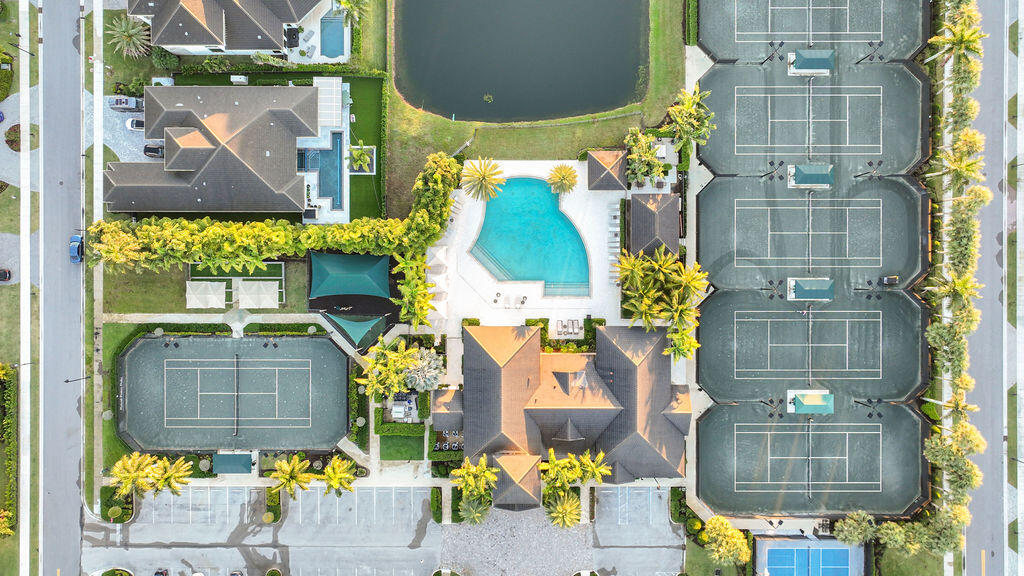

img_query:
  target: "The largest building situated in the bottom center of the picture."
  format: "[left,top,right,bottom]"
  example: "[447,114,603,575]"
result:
[431,326,695,512]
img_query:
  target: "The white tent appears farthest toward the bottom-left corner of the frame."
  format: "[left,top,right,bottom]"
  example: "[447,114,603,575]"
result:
[186,282,230,308]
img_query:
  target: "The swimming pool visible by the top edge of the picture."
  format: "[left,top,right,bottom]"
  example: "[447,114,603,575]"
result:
[320,18,345,59]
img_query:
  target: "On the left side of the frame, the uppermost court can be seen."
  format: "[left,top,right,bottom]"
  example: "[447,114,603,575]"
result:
[126,337,345,449]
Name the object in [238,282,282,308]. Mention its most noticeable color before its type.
white tent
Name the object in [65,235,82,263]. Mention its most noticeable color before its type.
blue car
